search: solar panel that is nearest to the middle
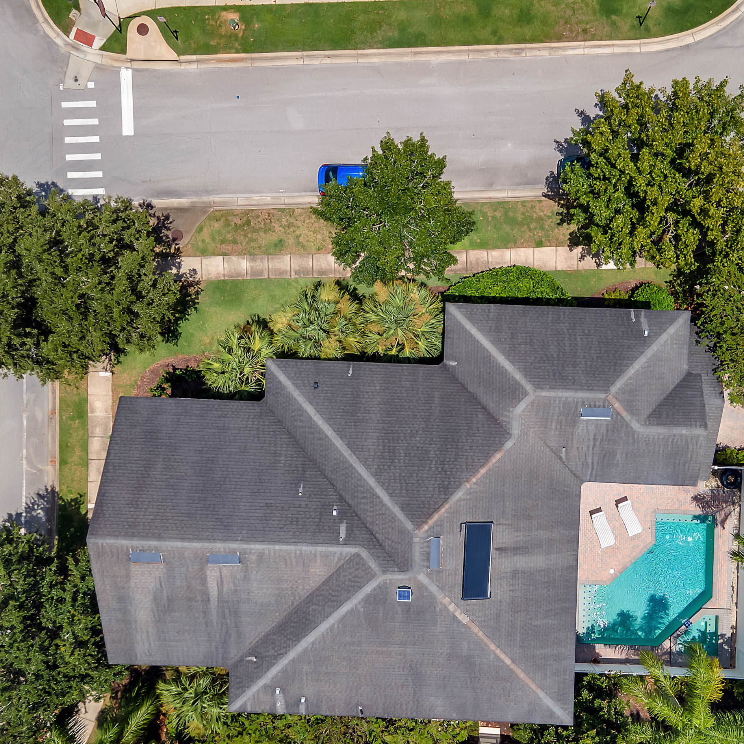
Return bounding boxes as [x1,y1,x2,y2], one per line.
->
[426,538,444,572]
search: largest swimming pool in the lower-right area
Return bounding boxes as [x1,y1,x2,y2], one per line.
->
[576,509,720,652]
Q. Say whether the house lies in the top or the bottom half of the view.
bottom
